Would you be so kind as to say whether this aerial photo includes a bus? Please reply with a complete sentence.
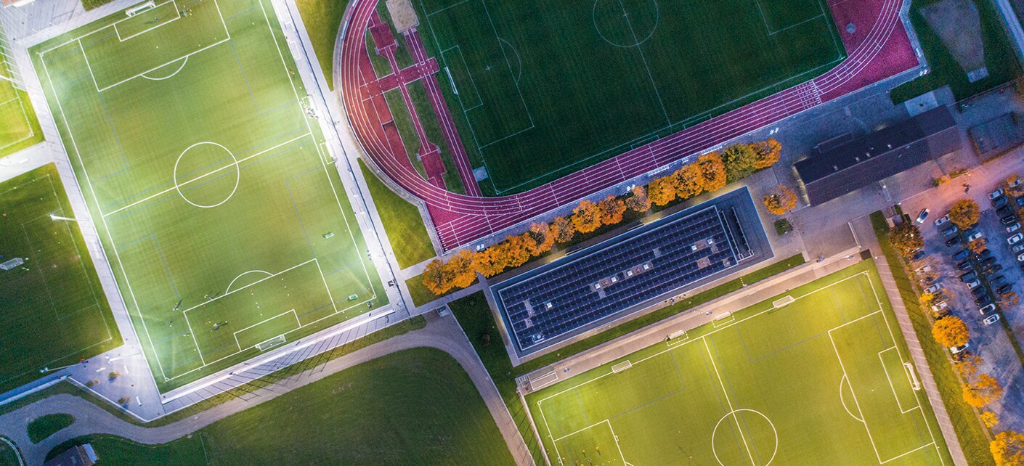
No, the scene contains no bus.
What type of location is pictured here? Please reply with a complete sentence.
This looks like a sports ground.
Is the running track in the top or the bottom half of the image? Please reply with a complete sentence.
The top half of the photo is where the running track is.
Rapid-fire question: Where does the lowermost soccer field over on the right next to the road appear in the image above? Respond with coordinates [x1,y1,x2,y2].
[524,258,955,466]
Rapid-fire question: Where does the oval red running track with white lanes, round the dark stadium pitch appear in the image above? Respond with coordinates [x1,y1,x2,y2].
[340,0,919,255]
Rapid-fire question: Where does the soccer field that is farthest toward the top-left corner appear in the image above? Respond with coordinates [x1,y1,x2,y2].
[0,45,45,157]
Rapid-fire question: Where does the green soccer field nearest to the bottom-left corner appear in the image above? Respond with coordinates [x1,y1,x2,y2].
[0,162,124,394]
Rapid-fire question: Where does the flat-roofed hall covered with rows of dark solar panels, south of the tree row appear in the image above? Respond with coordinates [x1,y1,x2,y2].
[489,186,795,359]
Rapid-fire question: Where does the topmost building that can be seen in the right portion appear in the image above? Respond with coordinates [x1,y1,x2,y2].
[792,104,963,205]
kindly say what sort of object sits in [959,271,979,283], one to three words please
vehicle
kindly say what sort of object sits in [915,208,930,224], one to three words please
car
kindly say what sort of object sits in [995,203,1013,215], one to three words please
vehicle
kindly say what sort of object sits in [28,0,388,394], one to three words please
soccer field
